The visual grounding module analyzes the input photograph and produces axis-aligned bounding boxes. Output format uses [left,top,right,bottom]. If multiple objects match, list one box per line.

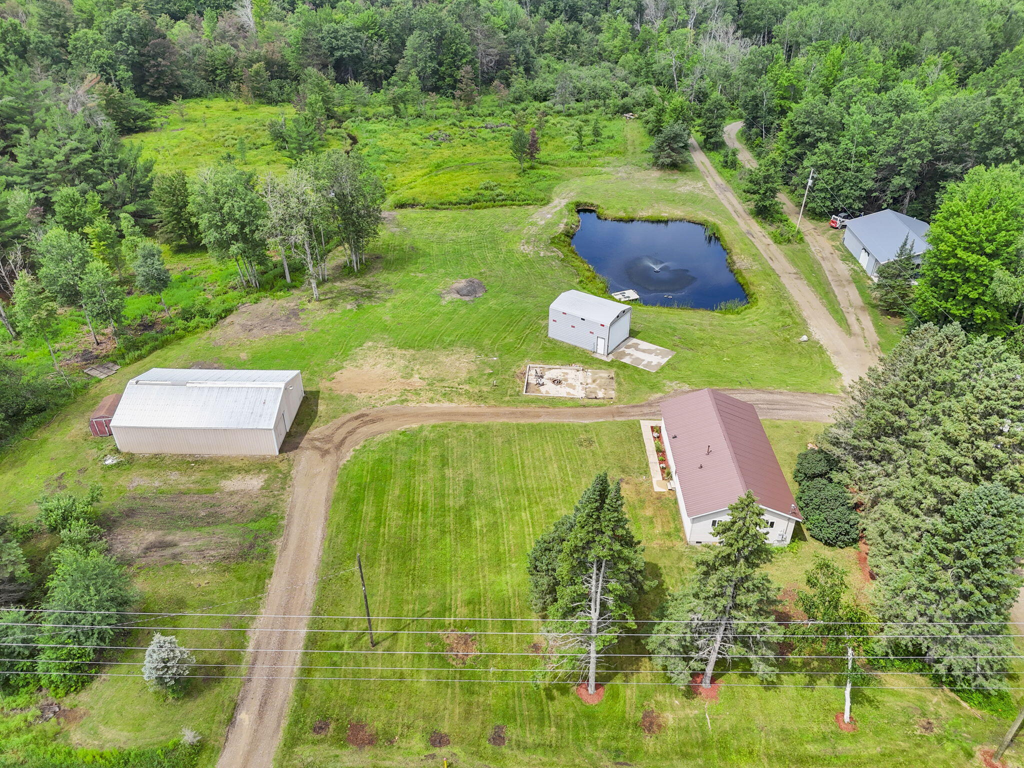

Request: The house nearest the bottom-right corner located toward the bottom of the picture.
[659,387,803,545]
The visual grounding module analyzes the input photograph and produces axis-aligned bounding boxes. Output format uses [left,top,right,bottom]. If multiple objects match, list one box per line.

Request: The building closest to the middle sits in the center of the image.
[548,291,632,356]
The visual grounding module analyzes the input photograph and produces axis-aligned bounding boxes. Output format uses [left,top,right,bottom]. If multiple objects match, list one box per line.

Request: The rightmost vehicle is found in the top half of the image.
[831,212,853,229]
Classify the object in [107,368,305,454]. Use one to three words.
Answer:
barn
